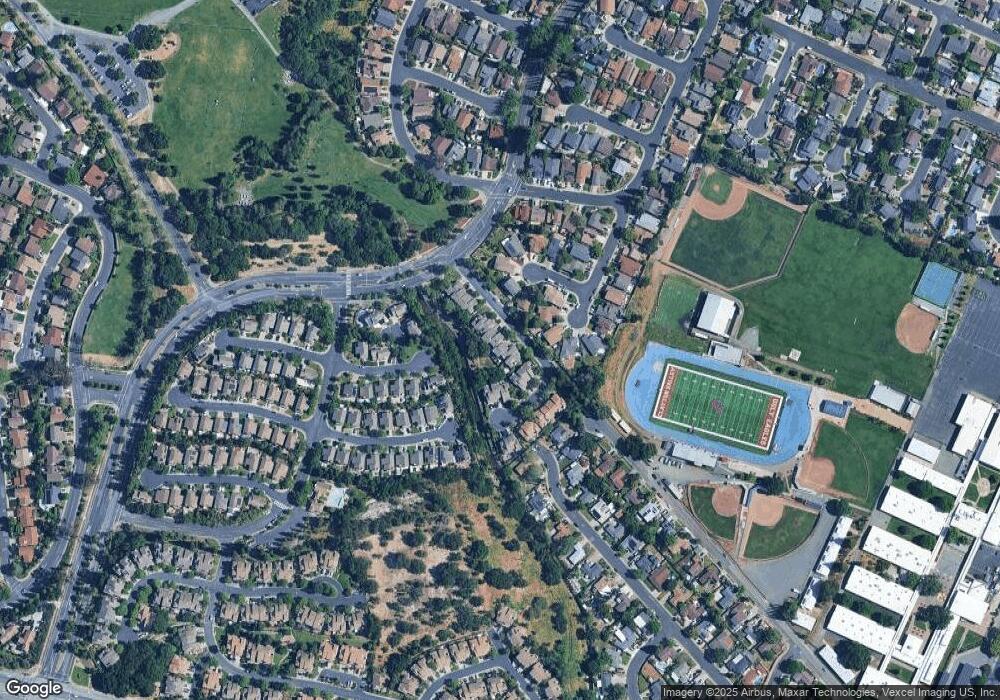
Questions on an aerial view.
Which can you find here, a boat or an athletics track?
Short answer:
athletics track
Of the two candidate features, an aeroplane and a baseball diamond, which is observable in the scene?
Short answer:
baseball diamond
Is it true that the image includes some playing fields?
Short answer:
Yes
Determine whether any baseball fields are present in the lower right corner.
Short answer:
Yes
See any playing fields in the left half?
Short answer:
No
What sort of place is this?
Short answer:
residential area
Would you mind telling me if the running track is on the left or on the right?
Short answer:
right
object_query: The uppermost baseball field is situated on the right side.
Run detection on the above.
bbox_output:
[658,162,809,292]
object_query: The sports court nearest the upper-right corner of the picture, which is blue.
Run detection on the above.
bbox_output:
[913,262,962,308]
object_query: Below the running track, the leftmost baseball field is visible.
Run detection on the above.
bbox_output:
[688,483,744,548]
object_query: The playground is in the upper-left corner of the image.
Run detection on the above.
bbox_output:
[140,32,182,61]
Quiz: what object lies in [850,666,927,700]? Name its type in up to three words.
building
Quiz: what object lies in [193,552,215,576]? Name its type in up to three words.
house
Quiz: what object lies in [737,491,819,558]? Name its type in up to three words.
baseball field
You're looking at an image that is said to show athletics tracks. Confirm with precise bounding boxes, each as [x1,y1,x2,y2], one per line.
[625,341,812,465]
